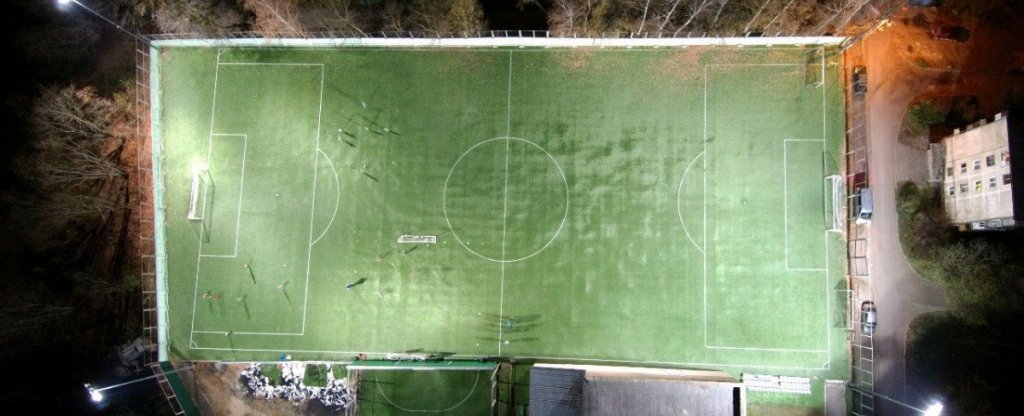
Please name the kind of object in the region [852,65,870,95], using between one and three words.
car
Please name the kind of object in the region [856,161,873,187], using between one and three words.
car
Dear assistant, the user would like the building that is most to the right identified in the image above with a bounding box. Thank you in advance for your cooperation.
[940,111,1024,231]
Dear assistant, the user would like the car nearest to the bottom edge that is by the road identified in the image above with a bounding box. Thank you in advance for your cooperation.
[860,301,879,334]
